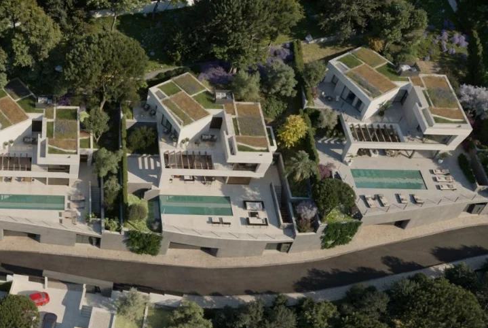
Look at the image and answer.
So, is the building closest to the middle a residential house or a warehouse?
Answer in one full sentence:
The building closest to the middle in the image is a residential house.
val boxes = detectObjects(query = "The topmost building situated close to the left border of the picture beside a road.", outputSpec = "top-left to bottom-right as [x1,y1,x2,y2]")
[0,81,104,254]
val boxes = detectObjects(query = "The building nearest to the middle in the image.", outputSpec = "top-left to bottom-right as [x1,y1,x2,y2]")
[132,72,297,259]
